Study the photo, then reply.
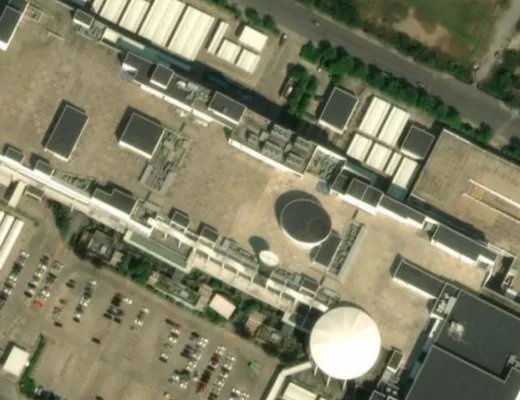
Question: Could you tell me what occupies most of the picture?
buildings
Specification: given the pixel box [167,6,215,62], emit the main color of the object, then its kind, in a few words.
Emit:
white tent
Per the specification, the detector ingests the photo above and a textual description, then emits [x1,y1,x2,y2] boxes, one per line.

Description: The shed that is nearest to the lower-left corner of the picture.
[2,346,30,378]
